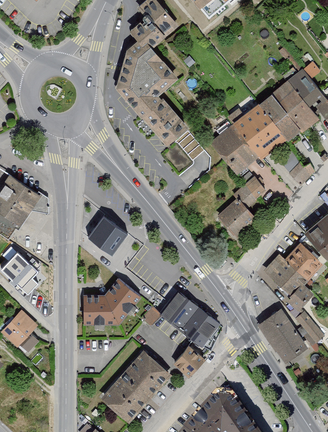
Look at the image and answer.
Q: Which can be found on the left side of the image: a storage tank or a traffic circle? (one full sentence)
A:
It is a traffic circle that can be seen on the left side of the image.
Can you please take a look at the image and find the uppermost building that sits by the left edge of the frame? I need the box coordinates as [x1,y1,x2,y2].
[0,175,48,240]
